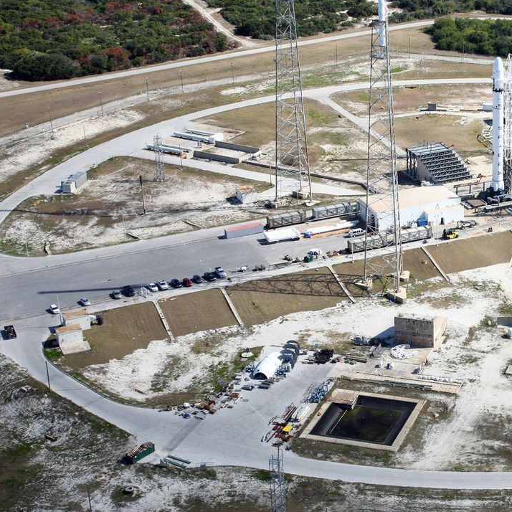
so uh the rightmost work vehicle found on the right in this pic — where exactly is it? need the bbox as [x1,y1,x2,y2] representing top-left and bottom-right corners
[444,227,459,240]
